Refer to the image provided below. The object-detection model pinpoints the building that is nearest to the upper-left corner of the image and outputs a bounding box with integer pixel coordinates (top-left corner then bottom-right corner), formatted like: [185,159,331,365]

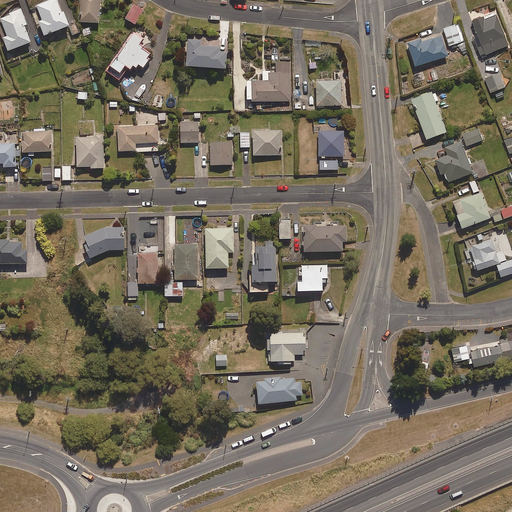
[0,9,30,48]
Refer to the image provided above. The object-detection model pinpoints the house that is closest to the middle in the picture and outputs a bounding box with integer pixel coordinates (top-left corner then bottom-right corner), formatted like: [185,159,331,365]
[252,239,278,282]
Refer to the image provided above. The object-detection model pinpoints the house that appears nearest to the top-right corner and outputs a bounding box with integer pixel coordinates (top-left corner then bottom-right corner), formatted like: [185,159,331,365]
[470,12,508,56]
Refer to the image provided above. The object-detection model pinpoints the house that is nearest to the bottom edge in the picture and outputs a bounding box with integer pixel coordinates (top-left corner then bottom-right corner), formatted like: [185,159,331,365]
[256,376,304,406]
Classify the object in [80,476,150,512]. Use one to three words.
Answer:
roundabout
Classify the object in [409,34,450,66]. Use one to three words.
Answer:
house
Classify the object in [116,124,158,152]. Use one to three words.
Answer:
house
